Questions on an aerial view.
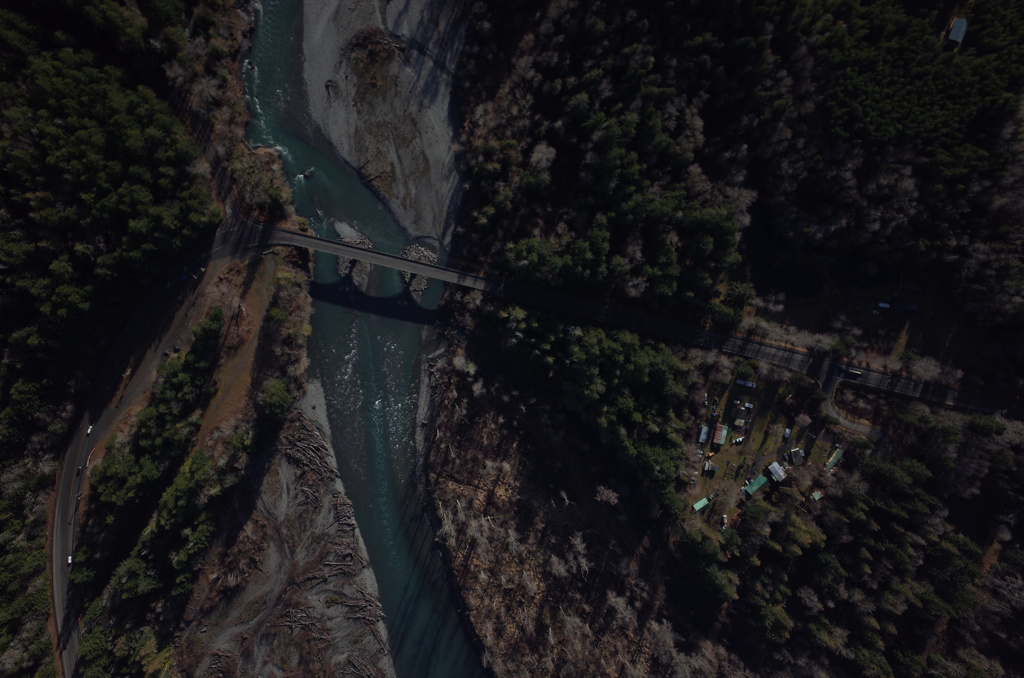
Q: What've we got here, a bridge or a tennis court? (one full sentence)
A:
Looking from above, you can make out a bridge.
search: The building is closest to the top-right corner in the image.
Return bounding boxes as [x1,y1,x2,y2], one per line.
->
[945,19,967,45]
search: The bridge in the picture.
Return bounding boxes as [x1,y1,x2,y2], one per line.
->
[288,231,488,290]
